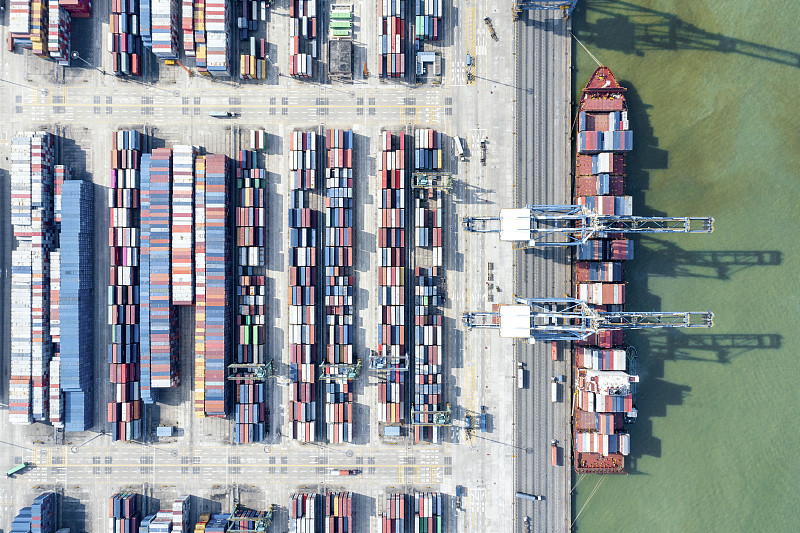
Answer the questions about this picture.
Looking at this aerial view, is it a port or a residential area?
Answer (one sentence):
It's a port.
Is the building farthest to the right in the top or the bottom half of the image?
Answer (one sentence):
The building farthest to the right is in the top half of the image.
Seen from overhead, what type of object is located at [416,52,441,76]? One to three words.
building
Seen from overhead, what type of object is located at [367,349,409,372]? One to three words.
container crane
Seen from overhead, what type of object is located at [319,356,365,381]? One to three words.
container crane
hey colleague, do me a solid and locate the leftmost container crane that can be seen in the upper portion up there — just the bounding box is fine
[409,170,452,195]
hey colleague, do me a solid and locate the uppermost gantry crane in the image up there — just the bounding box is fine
[516,0,578,21]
